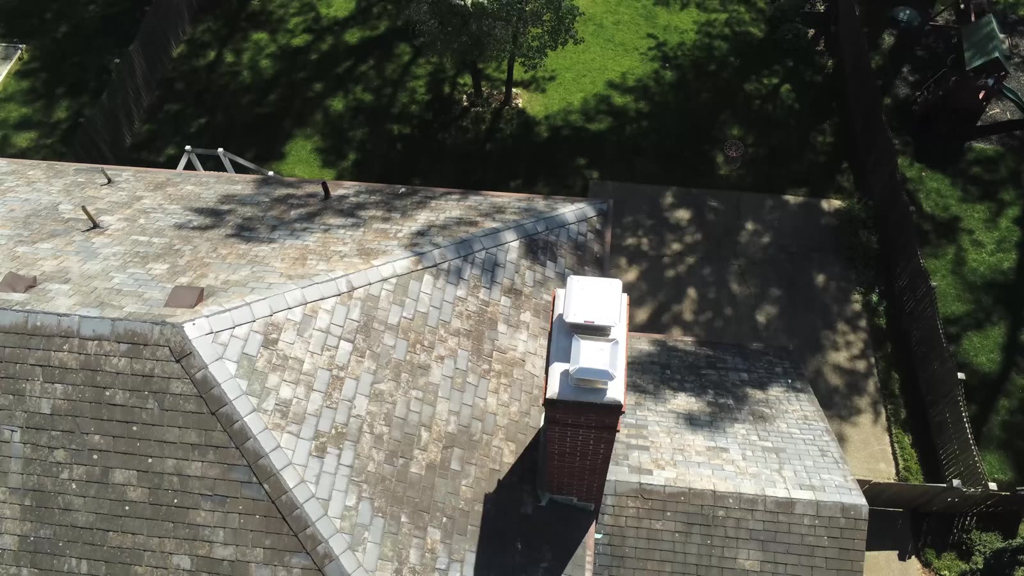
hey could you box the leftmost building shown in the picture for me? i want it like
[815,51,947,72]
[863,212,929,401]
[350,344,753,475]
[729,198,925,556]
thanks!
[0,158,870,576]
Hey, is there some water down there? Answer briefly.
No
